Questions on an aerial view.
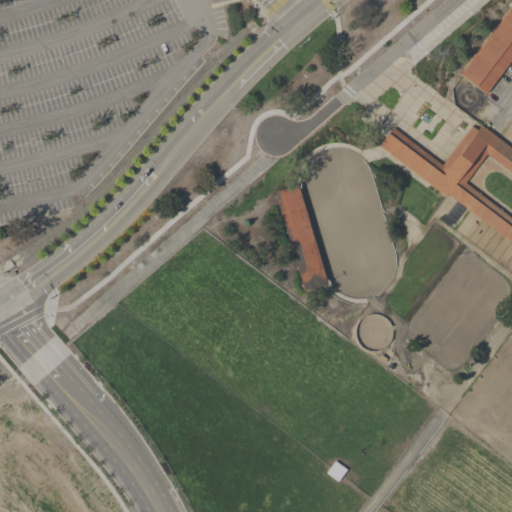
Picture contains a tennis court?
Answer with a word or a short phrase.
No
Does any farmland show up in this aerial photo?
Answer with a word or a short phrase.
Yes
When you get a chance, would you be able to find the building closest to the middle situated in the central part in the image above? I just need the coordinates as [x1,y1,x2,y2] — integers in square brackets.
[280,188,328,291]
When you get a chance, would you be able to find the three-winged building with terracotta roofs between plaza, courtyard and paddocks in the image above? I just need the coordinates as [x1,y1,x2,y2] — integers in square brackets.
[384,126,512,240]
